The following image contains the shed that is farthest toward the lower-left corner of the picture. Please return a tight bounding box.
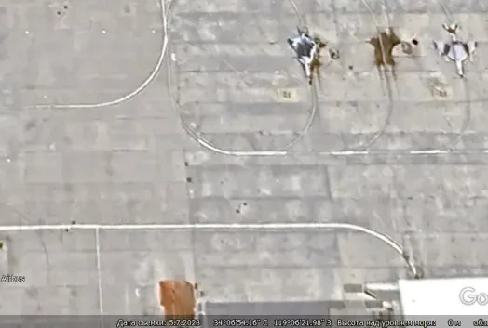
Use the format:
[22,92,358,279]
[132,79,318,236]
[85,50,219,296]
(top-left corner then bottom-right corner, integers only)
[157,283,197,328]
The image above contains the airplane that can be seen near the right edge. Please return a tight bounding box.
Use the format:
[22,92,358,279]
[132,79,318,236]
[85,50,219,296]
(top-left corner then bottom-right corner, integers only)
[432,21,479,77]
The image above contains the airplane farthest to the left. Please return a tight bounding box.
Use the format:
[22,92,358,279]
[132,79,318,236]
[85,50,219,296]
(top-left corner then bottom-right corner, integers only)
[283,26,328,80]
